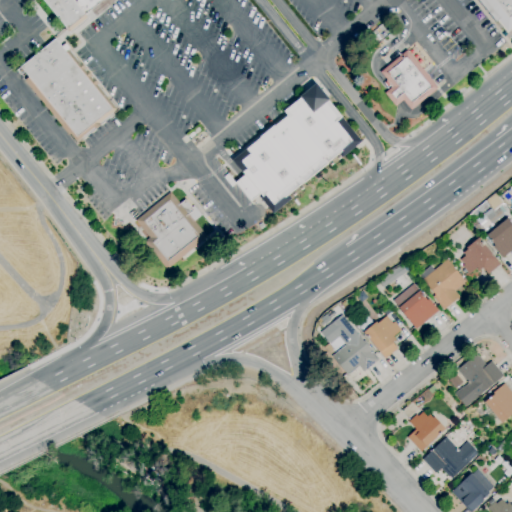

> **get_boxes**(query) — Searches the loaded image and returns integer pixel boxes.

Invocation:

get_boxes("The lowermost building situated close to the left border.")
[22,35,116,142]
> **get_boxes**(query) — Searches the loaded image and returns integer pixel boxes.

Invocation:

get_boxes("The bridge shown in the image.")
[0,363,94,478]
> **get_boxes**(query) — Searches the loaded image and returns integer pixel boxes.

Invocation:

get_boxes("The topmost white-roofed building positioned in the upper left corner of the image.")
[45,0,114,32]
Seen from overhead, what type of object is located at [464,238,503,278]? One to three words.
house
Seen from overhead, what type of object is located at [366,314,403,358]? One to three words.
house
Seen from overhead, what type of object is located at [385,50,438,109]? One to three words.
building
